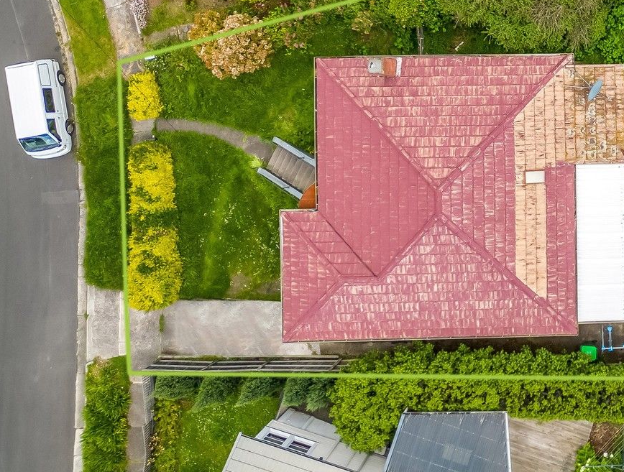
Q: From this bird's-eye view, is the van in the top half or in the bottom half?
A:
top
